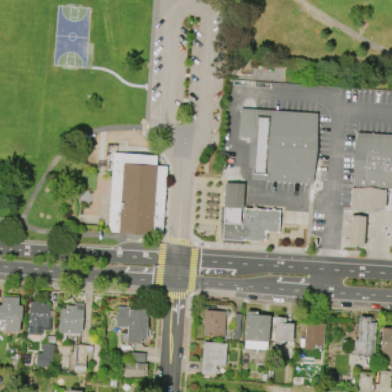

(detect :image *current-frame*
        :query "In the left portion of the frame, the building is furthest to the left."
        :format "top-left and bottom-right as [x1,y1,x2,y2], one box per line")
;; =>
[0,294,24,334]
